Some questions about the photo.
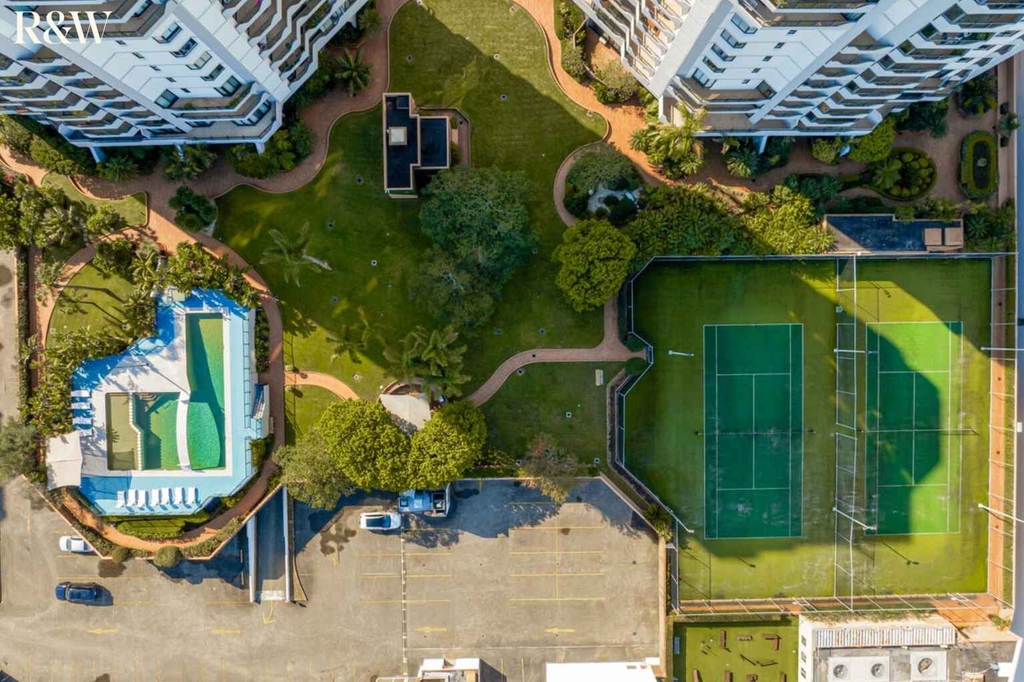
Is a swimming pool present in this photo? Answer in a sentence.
Yes, I can see a swimming pool in this picture.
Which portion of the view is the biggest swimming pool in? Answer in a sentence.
The biggest swimming pool appears toward the left of the photo.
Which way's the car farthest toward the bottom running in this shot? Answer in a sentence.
The car farthest toward the bottom is laid out from side to side.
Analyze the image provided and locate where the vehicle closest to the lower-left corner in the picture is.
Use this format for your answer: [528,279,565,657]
[59,579,102,602]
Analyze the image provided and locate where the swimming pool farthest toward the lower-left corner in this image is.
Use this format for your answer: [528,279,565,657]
[71,289,269,516]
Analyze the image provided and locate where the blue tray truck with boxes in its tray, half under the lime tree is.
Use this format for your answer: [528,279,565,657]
[400,488,449,515]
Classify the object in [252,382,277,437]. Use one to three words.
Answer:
shed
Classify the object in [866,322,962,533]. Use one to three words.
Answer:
tennis court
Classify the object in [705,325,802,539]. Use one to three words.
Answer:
tennis court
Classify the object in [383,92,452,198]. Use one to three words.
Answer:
house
